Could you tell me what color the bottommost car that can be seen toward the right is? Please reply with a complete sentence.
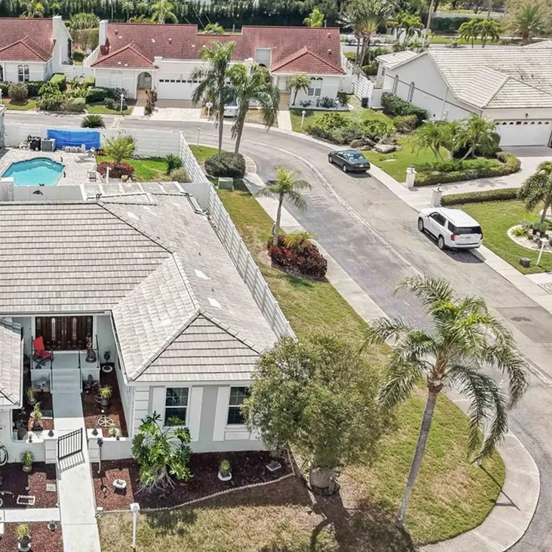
From above, the bottommost car that can be seen toward the right appears white.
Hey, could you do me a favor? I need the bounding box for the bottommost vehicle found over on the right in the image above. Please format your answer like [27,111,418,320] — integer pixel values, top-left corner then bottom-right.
[418,208,483,251]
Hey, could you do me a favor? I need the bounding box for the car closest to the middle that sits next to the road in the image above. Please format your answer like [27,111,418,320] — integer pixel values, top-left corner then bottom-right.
[317,145,372,172]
